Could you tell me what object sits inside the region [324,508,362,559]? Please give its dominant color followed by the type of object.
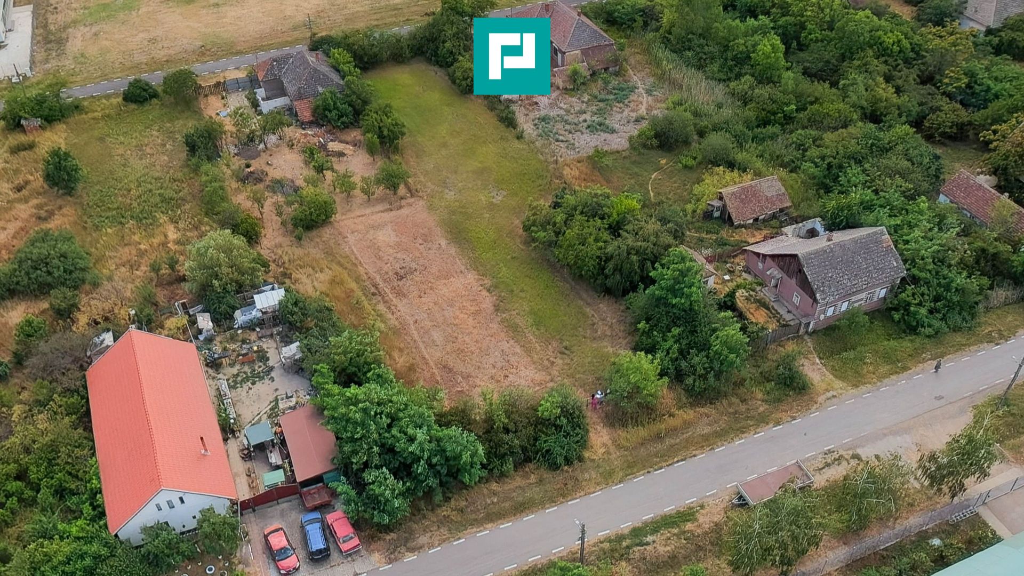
red car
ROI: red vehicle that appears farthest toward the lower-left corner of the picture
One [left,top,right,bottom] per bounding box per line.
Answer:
[262,523,302,576]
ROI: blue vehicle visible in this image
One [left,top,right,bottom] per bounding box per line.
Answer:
[298,509,329,563]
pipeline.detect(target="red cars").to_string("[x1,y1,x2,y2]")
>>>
[262,523,302,576]
[324,508,362,559]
